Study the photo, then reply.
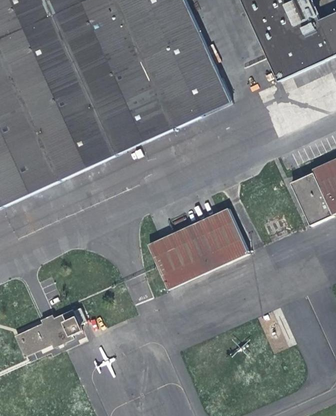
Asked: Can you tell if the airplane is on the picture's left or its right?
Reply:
left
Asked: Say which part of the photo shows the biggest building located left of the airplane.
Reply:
bottom left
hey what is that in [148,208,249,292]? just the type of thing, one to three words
hangar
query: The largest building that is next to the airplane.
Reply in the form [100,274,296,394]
[16,314,88,362]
